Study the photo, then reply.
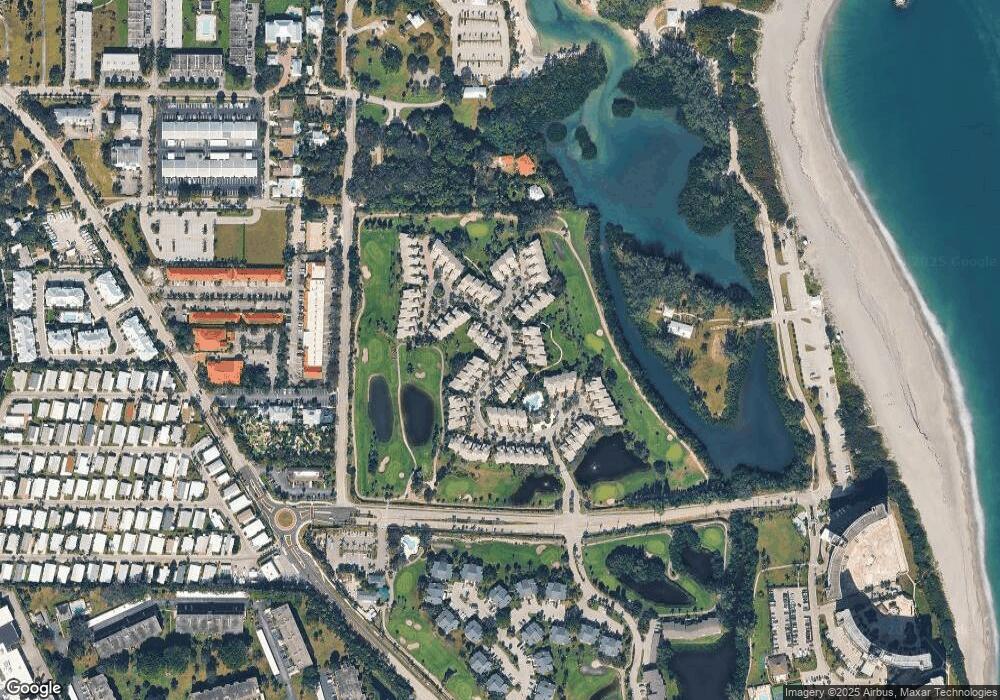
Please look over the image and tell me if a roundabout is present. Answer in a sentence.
Yes, the frame does contain a roundabout.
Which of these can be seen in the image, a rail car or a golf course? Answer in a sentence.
Looking from above, you can make out a golf course.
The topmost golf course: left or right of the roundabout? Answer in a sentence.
From the viewer's perspective, the topmost golf course falls to the right of the roundabout.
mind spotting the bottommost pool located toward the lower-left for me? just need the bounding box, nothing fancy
[70,599,86,614]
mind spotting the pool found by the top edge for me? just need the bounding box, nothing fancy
[195,15,216,41]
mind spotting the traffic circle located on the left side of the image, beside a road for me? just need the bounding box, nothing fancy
[238,467,352,582]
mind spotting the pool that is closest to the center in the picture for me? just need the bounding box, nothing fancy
[523,392,544,412]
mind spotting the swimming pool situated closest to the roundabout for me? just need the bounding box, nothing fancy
[401,535,419,559]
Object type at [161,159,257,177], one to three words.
building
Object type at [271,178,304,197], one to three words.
house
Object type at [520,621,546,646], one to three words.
house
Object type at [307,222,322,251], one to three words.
building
